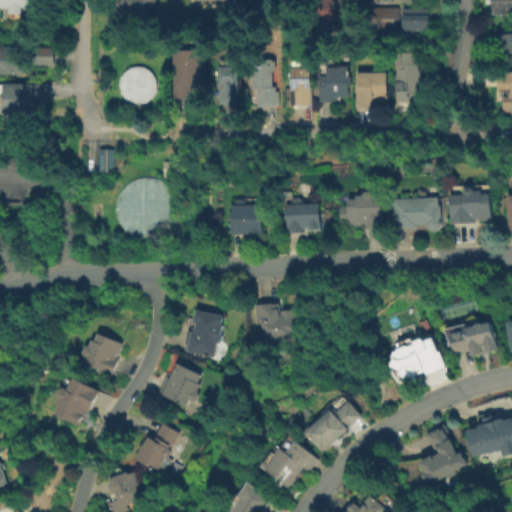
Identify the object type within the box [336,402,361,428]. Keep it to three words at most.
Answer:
building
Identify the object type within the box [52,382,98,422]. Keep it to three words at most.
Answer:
house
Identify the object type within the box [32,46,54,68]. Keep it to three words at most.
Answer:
building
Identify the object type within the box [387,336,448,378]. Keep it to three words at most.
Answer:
house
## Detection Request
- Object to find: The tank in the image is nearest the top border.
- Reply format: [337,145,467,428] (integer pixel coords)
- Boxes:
[120,66,158,104]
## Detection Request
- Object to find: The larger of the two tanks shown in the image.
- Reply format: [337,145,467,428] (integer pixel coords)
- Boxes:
[118,180,170,234]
